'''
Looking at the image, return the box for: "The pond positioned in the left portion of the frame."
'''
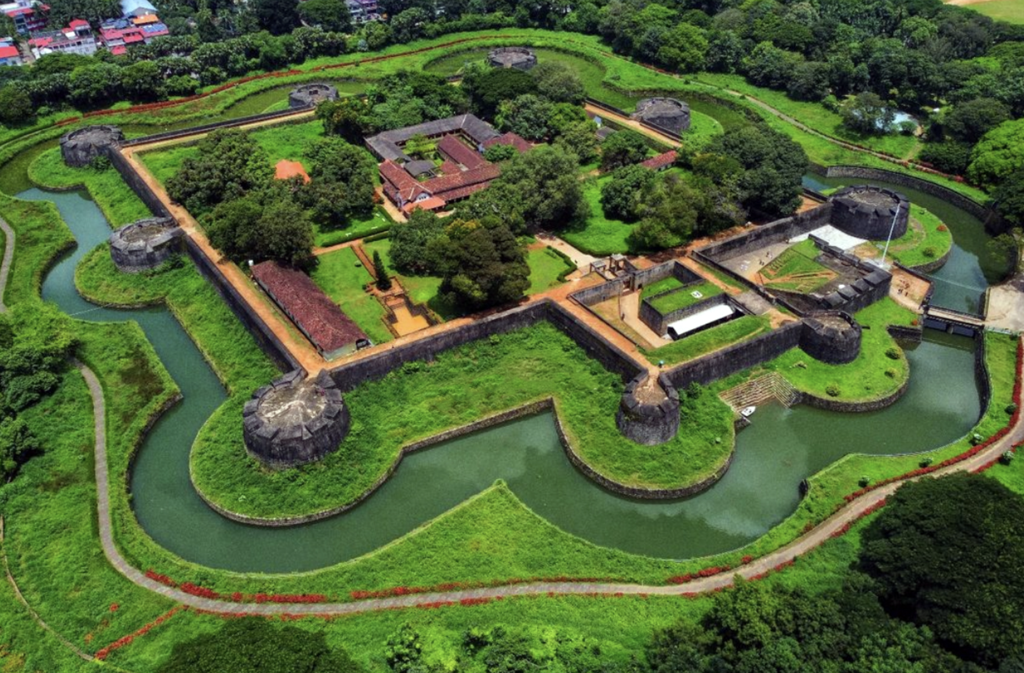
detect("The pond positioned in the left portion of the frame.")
[370,290,443,335]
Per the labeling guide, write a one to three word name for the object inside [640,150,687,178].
shed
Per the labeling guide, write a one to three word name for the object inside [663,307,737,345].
shed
